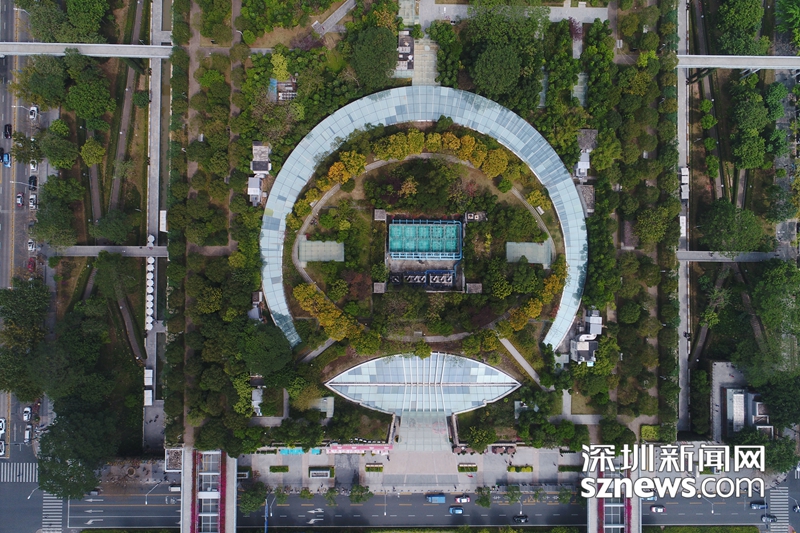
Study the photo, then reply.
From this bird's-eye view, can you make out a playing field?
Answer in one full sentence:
No, there's no playing field here.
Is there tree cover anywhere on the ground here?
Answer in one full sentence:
Yes, some tree cover is visible.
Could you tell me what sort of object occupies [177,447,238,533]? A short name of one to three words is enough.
overpass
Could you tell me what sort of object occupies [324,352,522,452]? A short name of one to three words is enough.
building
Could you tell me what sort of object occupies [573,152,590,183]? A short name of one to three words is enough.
building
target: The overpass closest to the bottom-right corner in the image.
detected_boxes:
[587,444,646,533]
